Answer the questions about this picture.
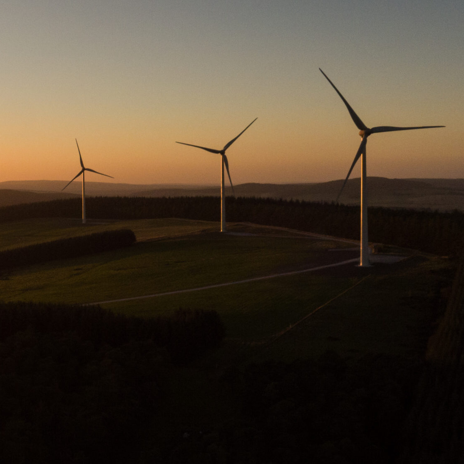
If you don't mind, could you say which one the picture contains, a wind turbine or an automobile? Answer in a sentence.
Visible in the photo is a wind turbine.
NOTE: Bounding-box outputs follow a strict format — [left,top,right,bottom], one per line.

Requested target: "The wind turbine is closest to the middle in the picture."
[179,118,258,232]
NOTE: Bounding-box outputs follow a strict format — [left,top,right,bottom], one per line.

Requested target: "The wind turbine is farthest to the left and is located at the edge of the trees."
[63,136,117,223]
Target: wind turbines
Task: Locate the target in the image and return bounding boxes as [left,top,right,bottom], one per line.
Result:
[179,118,258,232]
[63,136,117,223]
[325,68,448,268]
